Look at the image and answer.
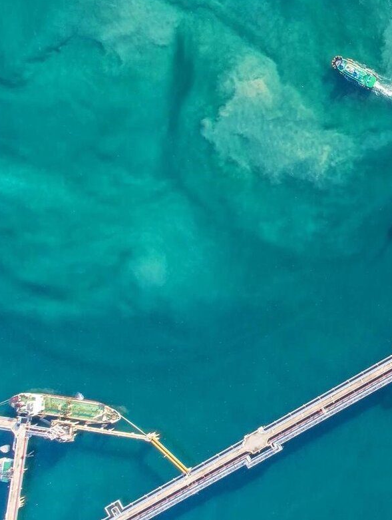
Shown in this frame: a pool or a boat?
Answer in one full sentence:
Looking from above, you can make out a boat.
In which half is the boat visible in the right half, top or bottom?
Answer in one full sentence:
The boat visible in the right half is in the top half of the image.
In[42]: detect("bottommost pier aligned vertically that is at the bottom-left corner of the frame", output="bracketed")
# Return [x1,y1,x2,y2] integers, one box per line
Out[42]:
[5,424,35,520]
